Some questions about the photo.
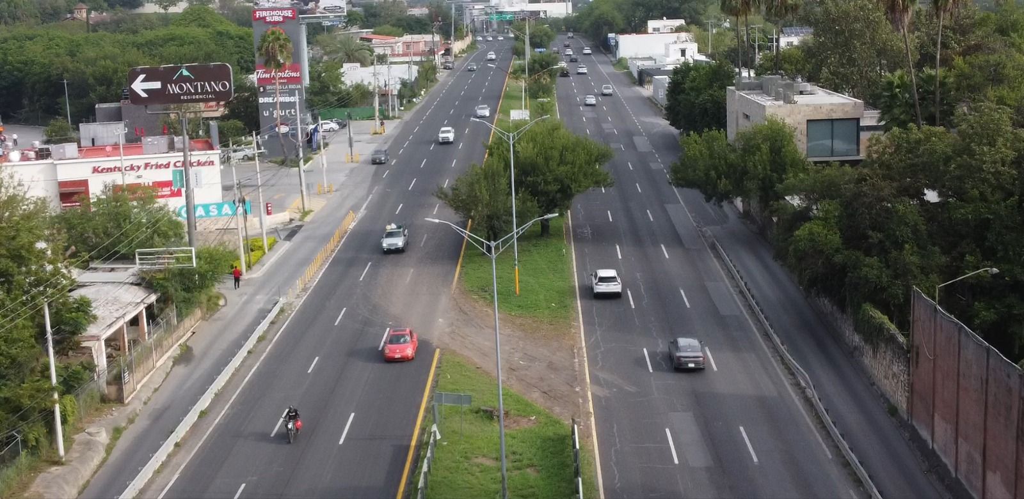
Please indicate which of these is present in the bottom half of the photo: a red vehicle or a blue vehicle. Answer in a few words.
red vehicle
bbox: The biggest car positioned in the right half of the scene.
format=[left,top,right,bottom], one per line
[664,329,706,364]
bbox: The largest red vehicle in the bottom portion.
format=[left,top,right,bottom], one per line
[378,324,415,359]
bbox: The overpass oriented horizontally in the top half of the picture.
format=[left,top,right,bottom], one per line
[419,0,572,29]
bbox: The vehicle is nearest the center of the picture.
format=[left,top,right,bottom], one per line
[588,262,621,292]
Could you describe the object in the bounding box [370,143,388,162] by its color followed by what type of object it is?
gray car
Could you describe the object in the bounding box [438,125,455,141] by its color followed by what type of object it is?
white car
